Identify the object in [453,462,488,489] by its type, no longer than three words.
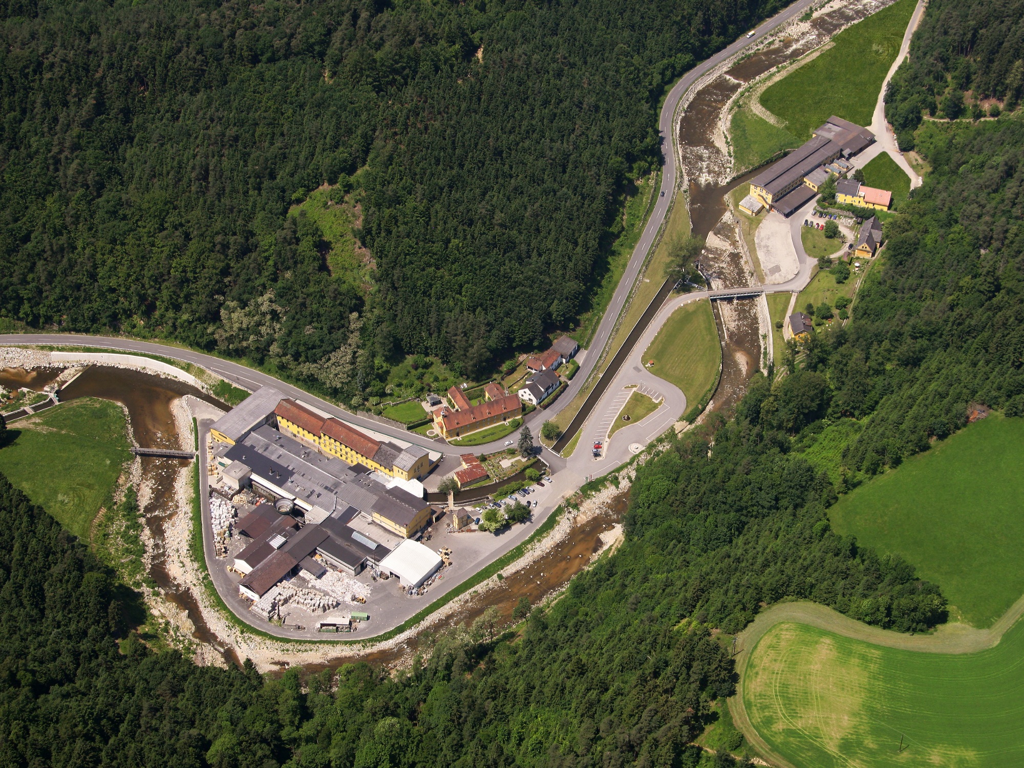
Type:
shed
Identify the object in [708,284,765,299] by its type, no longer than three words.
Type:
bridge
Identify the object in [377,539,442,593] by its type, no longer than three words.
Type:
building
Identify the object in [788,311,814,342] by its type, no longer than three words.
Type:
house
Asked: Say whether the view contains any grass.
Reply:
Yes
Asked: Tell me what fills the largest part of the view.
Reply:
trees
